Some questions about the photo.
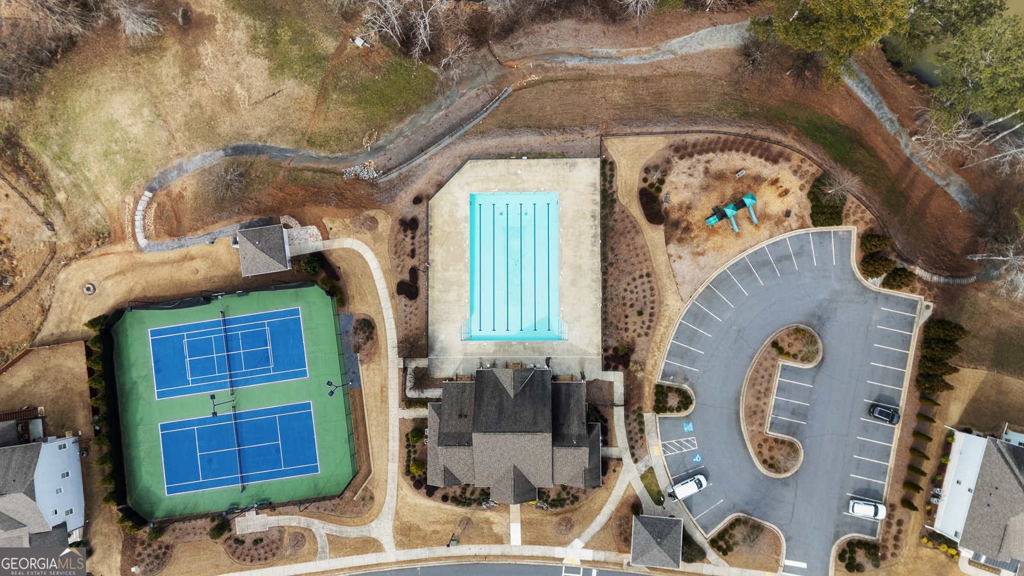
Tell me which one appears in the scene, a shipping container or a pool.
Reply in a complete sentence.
Looking from above, you can make out a pool.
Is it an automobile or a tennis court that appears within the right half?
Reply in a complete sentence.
What appears within the right half is an automobile.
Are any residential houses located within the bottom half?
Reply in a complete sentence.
Yes, you'll find a residential house within the bottom half.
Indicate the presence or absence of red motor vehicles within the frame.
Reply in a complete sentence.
No, the picture doesn't show any red motor vehicle.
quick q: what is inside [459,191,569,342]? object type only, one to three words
swimming pool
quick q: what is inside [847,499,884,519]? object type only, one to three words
car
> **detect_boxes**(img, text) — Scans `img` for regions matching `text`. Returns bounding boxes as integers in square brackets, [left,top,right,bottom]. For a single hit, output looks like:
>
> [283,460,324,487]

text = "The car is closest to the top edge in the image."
[866,404,899,422]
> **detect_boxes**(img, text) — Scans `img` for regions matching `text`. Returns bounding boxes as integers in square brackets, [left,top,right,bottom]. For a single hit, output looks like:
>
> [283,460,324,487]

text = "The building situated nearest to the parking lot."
[629,510,684,569]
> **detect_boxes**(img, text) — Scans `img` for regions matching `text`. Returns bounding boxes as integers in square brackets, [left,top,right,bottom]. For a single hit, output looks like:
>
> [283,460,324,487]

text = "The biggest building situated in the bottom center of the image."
[427,360,602,505]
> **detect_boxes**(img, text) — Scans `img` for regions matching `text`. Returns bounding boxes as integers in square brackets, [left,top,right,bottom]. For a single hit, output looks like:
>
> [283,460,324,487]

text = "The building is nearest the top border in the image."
[226,224,296,277]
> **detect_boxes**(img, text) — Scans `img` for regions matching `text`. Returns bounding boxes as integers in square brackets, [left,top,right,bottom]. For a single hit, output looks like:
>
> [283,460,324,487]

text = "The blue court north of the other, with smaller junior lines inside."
[149,307,308,400]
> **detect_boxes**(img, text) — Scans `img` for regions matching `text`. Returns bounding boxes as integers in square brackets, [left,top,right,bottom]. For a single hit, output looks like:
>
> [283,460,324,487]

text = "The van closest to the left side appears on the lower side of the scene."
[668,475,707,504]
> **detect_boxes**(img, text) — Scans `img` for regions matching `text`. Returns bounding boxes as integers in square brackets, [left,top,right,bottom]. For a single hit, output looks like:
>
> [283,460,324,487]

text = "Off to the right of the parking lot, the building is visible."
[934,422,1024,575]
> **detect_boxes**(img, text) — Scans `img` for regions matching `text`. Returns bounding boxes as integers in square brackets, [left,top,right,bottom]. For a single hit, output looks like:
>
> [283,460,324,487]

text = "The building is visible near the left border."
[0,406,84,576]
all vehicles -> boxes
[668,475,707,504]
[866,404,899,422]
[847,499,884,519]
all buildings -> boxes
[0,406,84,576]
[427,360,602,505]
[226,224,296,277]
[629,510,684,569]
[934,422,1024,575]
